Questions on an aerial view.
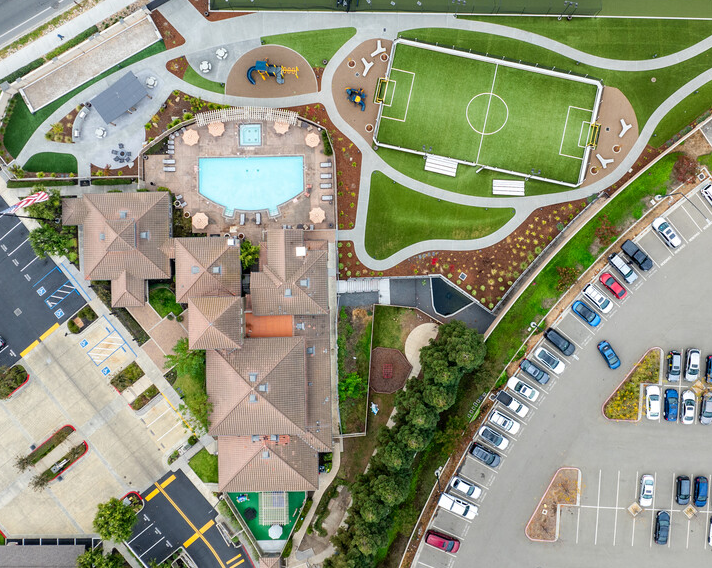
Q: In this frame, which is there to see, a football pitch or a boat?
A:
football pitch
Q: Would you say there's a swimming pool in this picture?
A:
Yes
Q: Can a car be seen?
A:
Yes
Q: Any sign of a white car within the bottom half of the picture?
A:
Yes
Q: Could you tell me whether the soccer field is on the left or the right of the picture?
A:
right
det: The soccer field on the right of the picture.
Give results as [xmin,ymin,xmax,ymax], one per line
[377,44,596,181]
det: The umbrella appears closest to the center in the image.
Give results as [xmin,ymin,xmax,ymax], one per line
[309,207,326,224]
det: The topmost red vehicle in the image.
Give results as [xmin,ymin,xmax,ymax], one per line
[597,271,628,301]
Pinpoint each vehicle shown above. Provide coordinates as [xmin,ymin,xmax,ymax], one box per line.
[679,391,698,424]
[644,386,661,418]
[535,347,564,372]
[661,388,680,421]
[697,392,712,424]
[439,492,477,518]
[691,476,708,505]
[683,348,701,380]
[487,408,520,434]
[478,425,508,449]
[494,388,531,419]
[449,475,482,499]
[674,475,690,504]
[699,184,712,209]
[596,338,620,371]
[608,253,638,283]
[572,300,600,327]
[426,529,459,552]
[653,509,670,543]
[652,217,682,248]
[469,441,502,467]
[597,271,628,301]
[664,350,682,382]
[703,354,712,383]
[619,237,653,273]
[519,358,550,385]
[582,284,613,313]
[507,375,539,401]
[544,328,576,356]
